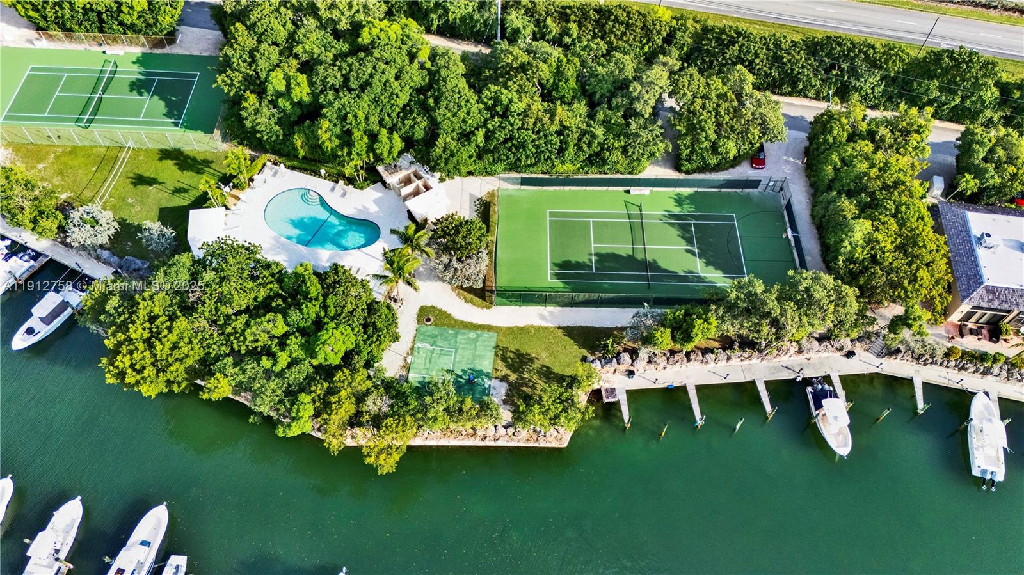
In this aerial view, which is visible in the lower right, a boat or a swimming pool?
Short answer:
boat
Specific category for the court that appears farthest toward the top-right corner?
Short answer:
tennis court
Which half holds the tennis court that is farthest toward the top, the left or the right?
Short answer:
left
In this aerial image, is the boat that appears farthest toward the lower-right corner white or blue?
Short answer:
white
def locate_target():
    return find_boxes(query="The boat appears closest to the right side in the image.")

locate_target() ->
[964,392,1014,493]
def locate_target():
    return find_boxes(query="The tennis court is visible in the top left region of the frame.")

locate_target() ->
[0,46,219,151]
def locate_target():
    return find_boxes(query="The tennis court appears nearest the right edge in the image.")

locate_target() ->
[495,189,801,308]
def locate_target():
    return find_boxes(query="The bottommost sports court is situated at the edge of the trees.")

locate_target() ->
[406,326,497,403]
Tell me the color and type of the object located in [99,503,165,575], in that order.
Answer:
white boat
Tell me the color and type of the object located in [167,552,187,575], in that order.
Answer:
white boat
